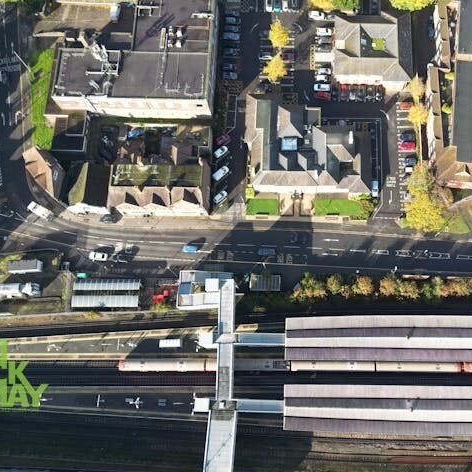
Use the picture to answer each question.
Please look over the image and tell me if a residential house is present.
Yes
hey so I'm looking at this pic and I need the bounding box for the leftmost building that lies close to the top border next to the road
[50,0,221,118]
